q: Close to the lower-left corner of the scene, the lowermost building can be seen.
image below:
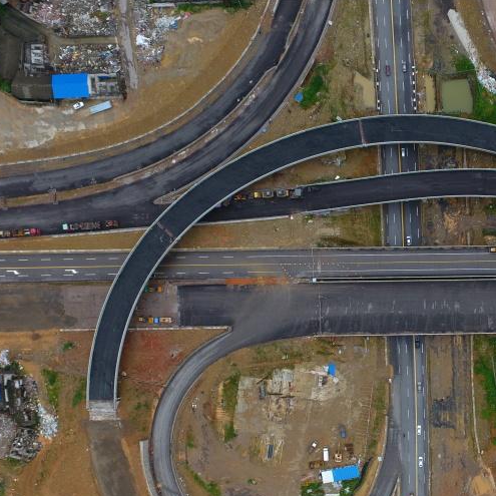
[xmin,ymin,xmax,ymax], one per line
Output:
[7,428,41,460]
